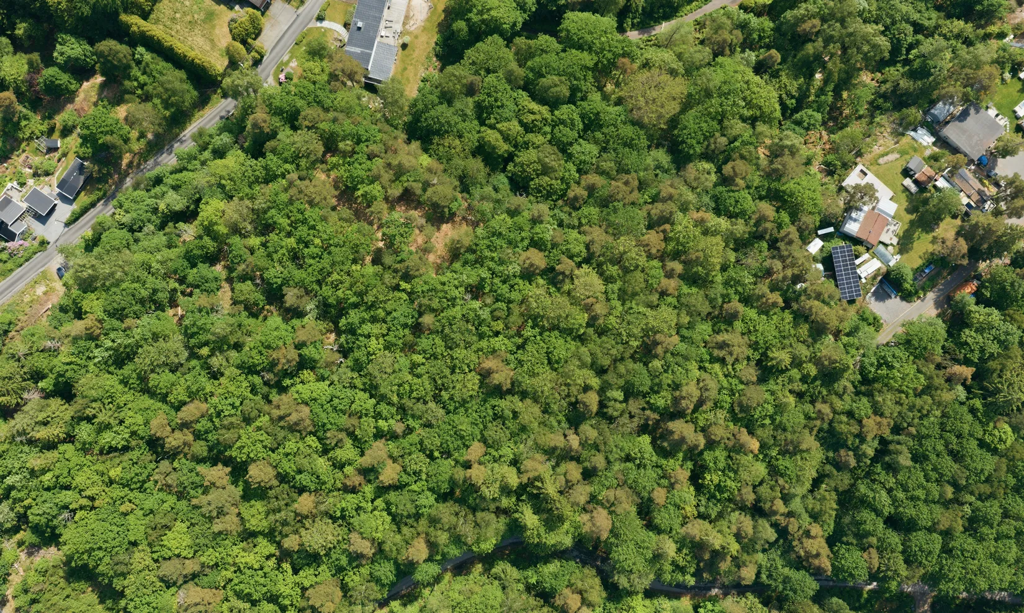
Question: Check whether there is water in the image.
No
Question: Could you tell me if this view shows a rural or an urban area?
rural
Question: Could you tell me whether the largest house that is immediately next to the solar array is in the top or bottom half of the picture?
top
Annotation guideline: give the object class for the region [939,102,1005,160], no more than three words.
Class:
house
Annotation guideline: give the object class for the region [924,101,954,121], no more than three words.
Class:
shed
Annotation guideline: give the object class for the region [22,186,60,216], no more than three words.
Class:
building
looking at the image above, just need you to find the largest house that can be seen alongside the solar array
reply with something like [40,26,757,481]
[841,163,897,250]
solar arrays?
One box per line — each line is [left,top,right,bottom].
[832,244,862,300]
